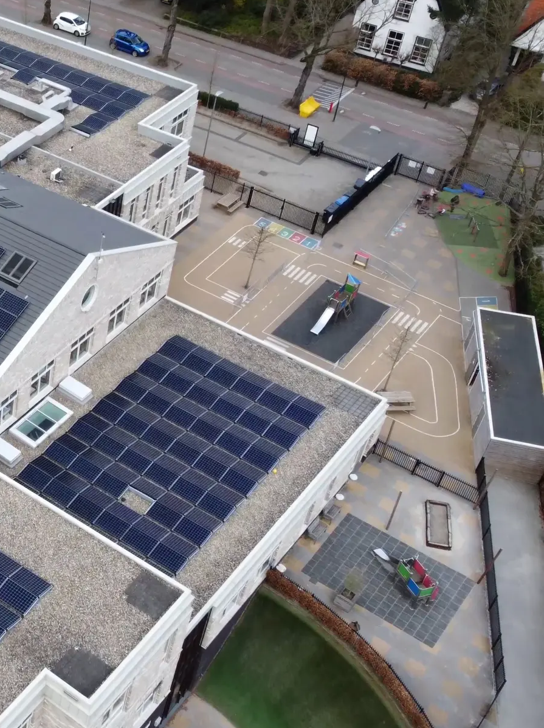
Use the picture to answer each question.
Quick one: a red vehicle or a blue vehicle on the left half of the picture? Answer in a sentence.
The one visible on the left half of the picture is a blue vehicle.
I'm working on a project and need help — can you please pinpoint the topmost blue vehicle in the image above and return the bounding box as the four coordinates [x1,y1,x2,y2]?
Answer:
[114,29,154,56]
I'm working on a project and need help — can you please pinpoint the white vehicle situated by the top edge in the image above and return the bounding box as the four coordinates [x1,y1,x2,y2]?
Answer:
[55,9,92,34]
